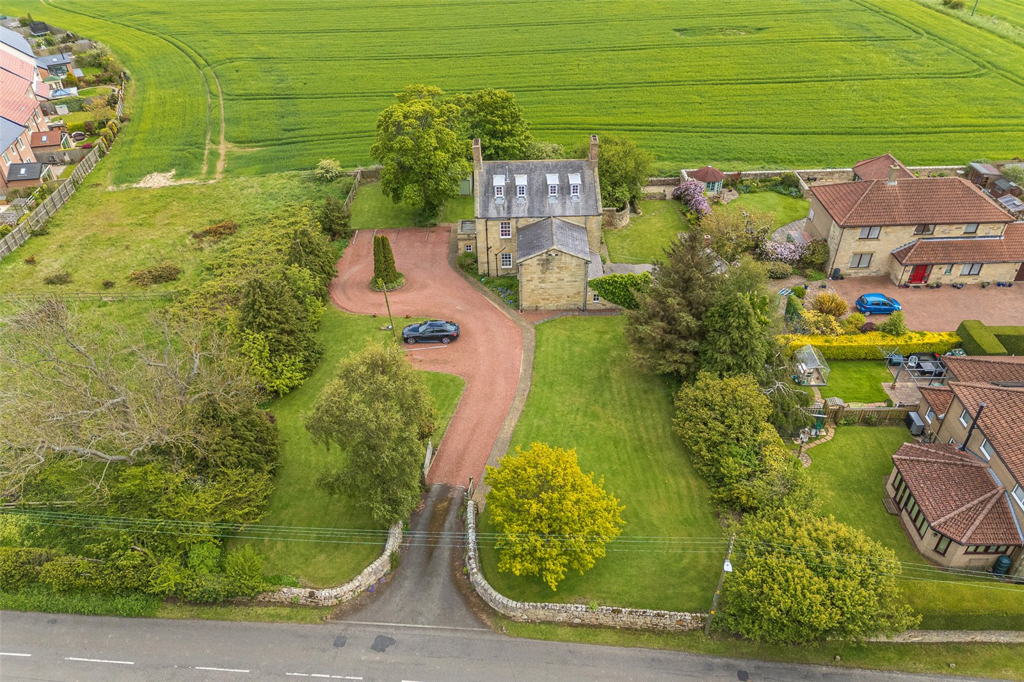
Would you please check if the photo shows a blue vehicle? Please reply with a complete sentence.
Yes, I can see a blue vehicle in this picture.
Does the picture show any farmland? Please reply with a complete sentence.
Yes, farmland shows up in the scene.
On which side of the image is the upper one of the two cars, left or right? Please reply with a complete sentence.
The upper one of the two cars sits on the right side.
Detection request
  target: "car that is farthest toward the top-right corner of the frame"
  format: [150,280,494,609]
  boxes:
[857,291,902,314]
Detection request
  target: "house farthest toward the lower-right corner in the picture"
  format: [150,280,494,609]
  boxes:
[879,351,1024,581]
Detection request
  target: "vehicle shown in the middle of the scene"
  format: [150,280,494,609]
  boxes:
[403,320,460,345]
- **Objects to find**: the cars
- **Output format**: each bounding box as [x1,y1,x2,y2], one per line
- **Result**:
[857,291,902,314]
[403,320,460,345]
